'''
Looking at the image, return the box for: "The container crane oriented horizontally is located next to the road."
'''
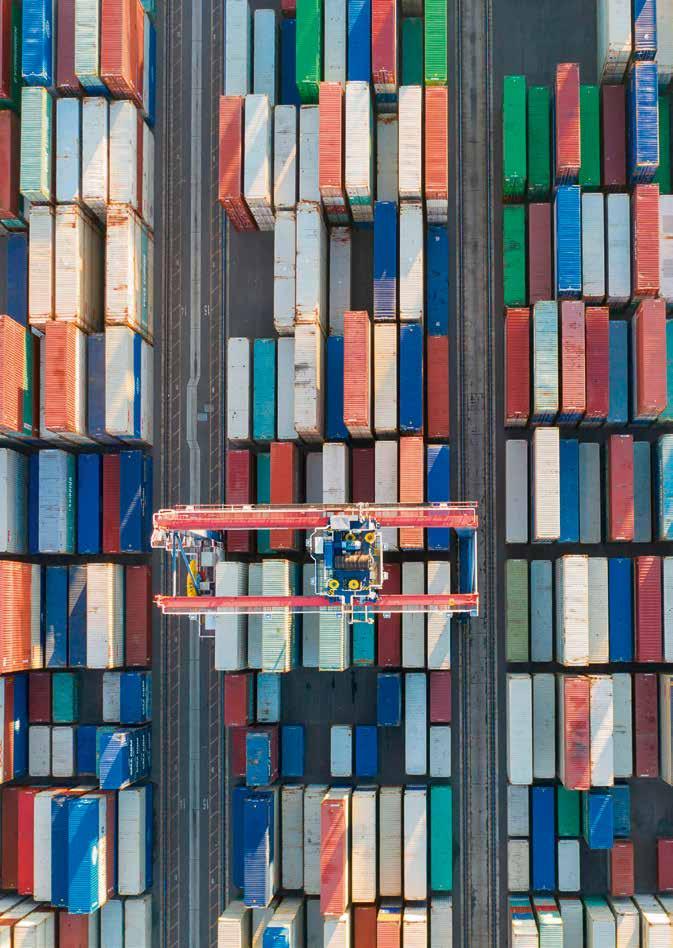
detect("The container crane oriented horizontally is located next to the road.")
[150,499,480,639]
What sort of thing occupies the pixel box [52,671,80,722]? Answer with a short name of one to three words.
shipping container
